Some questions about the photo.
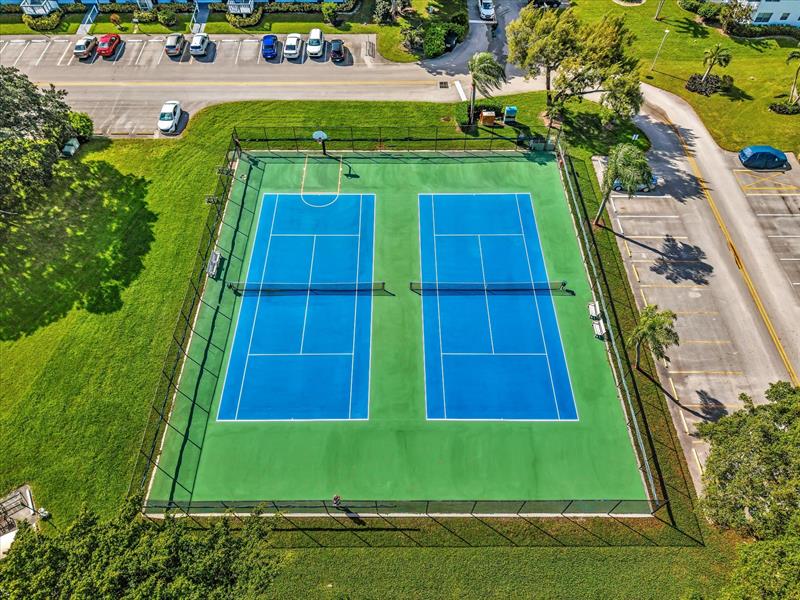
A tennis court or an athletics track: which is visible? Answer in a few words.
tennis court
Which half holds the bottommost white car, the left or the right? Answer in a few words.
left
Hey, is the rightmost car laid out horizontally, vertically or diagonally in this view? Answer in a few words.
horizontally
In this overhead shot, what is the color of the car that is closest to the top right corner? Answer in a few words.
blue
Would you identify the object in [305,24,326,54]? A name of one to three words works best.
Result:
car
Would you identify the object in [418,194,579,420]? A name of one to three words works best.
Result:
tennis court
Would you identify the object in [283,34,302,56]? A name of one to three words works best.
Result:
car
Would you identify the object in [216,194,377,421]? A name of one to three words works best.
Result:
tennis court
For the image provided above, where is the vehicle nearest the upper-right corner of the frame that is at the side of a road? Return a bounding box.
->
[738,144,791,166]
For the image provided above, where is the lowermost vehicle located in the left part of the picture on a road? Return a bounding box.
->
[155,102,184,133]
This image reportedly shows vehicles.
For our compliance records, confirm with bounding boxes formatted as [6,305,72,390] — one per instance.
[305,24,326,54]
[190,32,212,55]
[165,33,190,55]
[98,35,124,56]
[259,34,280,57]
[155,102,184,133]
[642,170,663,191]
[329,37,346,58]
[283,34,302,56]
[479,0,497,20]
[73,34,101,57]
[738,144,791,166]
